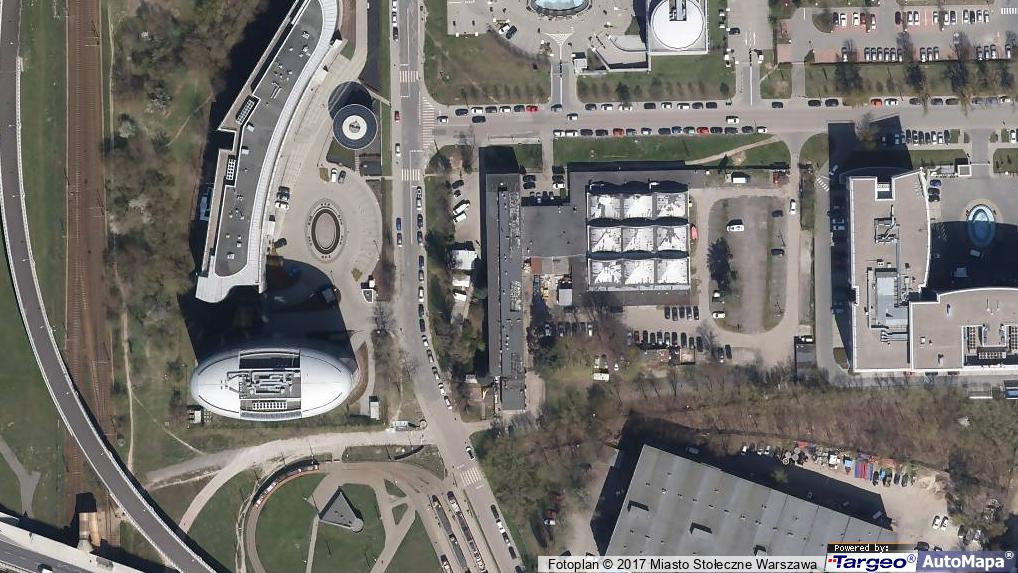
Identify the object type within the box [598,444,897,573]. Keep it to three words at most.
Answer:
warehouse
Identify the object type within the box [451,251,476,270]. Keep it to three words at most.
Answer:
shed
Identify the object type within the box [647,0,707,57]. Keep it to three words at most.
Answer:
building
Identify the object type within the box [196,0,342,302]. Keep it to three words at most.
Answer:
building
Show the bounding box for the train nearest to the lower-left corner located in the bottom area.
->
[255,464,317,504]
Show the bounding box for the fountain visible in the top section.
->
[960,196,1002,252]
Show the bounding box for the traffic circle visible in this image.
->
[305,201,346,260]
